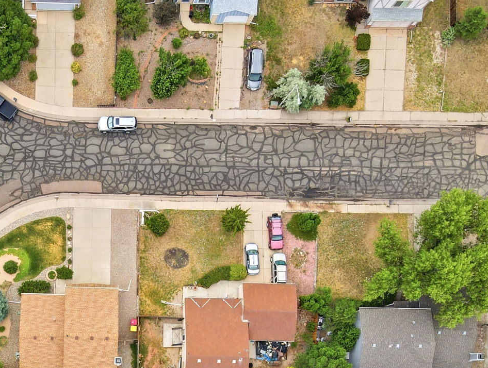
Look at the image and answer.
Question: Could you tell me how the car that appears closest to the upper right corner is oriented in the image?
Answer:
up and down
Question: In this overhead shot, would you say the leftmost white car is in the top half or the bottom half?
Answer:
top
